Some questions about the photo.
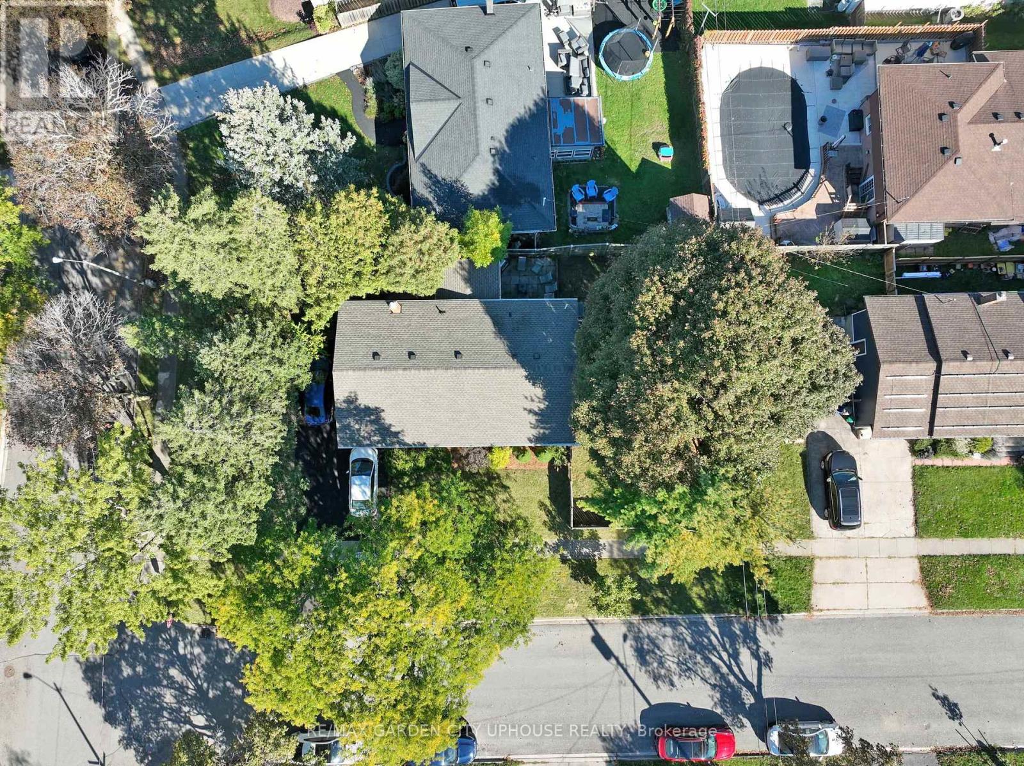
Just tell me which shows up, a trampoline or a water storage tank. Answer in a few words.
trampoline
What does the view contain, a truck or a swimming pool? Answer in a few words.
swimming pool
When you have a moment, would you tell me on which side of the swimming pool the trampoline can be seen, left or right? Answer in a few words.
left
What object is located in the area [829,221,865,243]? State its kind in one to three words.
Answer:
greenhouse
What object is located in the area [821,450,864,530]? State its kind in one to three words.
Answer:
car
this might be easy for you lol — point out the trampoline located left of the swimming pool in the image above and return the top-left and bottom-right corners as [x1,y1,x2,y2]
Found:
[596,15,658,88]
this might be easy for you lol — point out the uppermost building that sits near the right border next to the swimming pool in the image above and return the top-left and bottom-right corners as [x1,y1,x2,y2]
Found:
[859,49,1024,228]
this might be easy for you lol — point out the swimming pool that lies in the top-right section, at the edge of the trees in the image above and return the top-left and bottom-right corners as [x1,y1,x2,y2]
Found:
[711,60,819,211]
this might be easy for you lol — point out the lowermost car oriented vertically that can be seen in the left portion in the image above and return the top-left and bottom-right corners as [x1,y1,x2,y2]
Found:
[346,448,381,521]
